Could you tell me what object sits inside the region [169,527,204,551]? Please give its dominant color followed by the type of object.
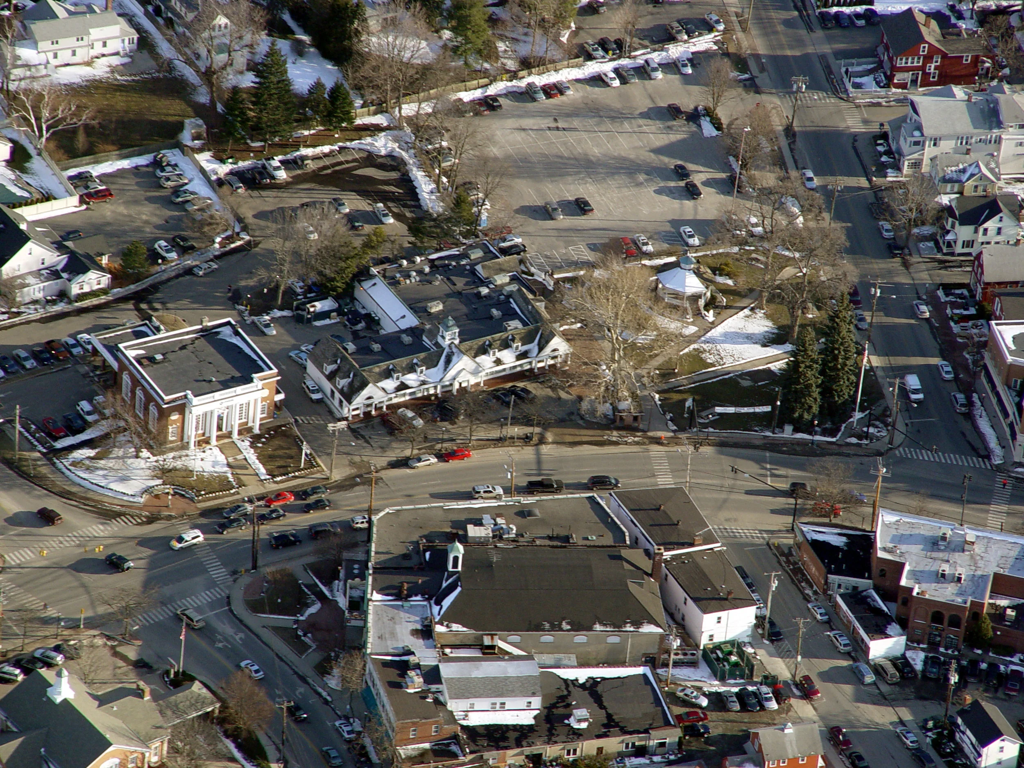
white car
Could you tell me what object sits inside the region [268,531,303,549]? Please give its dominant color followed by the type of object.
black car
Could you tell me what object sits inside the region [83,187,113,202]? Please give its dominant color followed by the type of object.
red car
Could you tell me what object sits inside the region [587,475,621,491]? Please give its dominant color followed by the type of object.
black car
